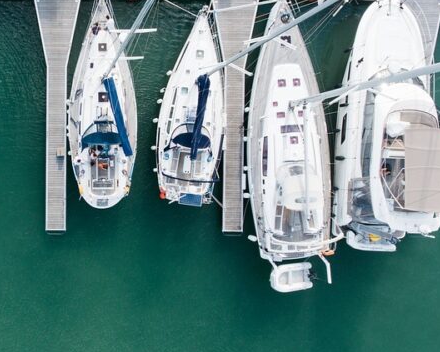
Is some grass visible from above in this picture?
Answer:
No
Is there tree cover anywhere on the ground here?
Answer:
No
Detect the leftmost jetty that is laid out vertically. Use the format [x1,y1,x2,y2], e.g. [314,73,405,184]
[35,0,80,233]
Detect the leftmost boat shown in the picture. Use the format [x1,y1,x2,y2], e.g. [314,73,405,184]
[69,0,157,208]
